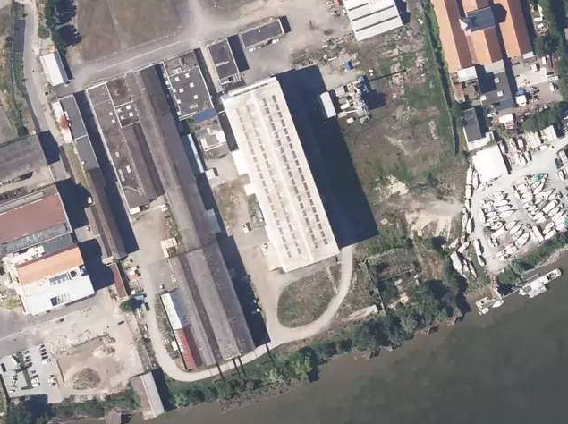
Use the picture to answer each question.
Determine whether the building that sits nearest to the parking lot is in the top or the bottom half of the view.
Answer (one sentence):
Seen from above, the building that sits nearest to the parking lot lies in the bottom half of the view.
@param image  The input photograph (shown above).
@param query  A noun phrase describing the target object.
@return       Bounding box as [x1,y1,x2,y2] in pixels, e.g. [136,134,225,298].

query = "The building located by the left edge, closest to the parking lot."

[22,266,97,315]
